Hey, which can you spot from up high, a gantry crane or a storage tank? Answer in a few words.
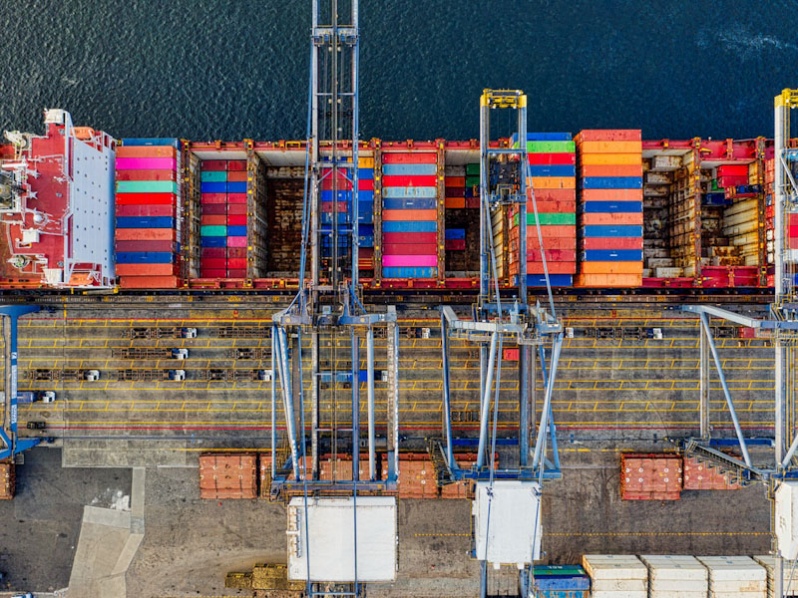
gantry crane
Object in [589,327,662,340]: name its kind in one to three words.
vehicle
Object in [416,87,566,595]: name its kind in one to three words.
container crane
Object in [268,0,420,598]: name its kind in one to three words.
container crane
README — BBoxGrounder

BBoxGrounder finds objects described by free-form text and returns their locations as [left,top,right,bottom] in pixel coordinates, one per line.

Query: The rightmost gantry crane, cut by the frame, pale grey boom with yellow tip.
[652,87,798,598]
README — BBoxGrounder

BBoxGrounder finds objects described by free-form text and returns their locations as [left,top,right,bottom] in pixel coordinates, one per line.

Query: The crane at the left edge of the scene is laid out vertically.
[0,306,75,464]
